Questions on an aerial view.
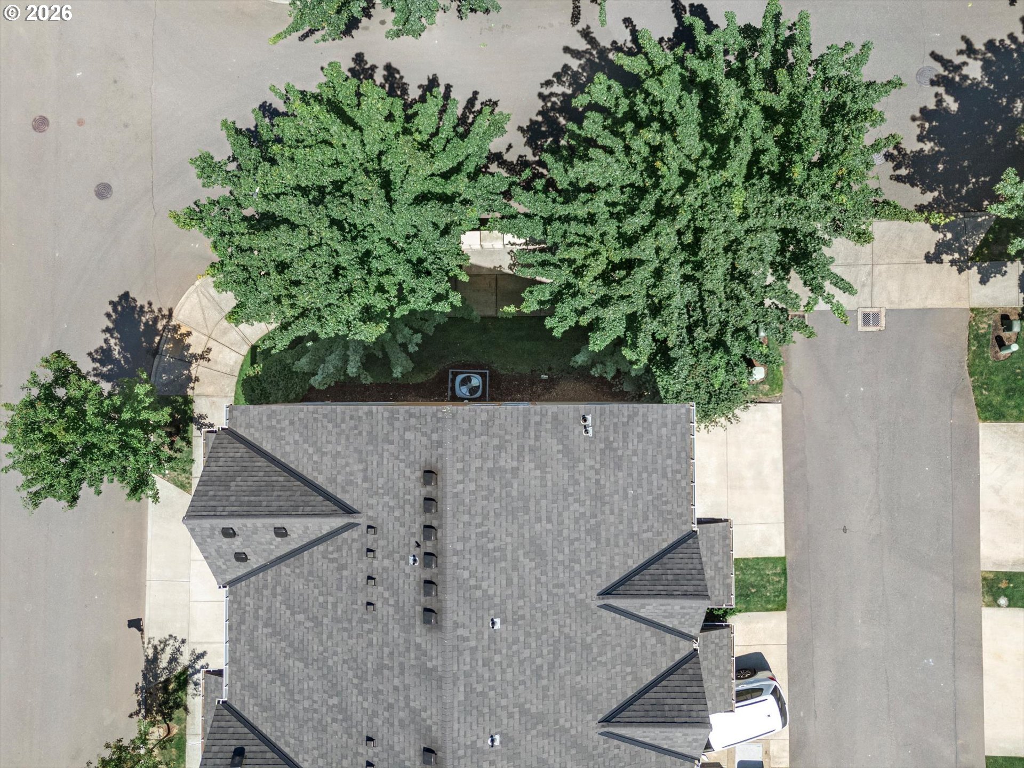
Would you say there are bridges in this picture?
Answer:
No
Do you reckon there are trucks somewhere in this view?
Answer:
No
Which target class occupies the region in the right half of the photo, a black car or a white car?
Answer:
white car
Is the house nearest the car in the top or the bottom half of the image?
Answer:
bottom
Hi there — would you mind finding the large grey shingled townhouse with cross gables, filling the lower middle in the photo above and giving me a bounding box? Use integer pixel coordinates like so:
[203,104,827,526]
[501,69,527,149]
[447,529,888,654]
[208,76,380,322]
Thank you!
[181,398,735,768]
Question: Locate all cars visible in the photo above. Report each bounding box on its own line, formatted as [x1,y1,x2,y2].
[704,667,787,750]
